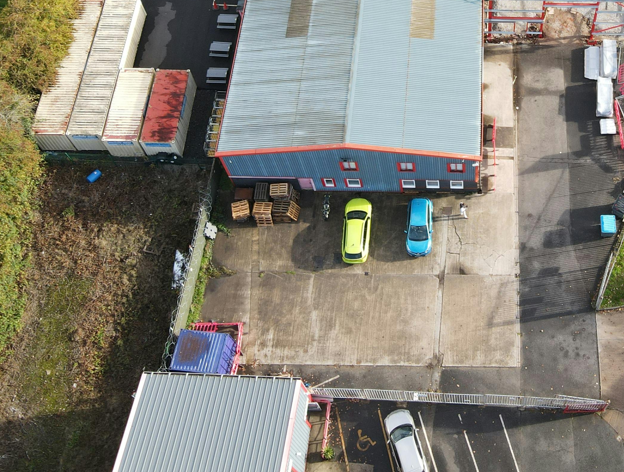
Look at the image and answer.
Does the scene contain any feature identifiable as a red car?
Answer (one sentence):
No, I can't see a single red car in this photo.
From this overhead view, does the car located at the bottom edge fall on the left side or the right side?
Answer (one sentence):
The car located at the bottom edge is on the right side of the image.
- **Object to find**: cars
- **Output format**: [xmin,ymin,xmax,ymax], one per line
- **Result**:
[402,200,435,259]
[390,410,427,472]
[339,201,374,266]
